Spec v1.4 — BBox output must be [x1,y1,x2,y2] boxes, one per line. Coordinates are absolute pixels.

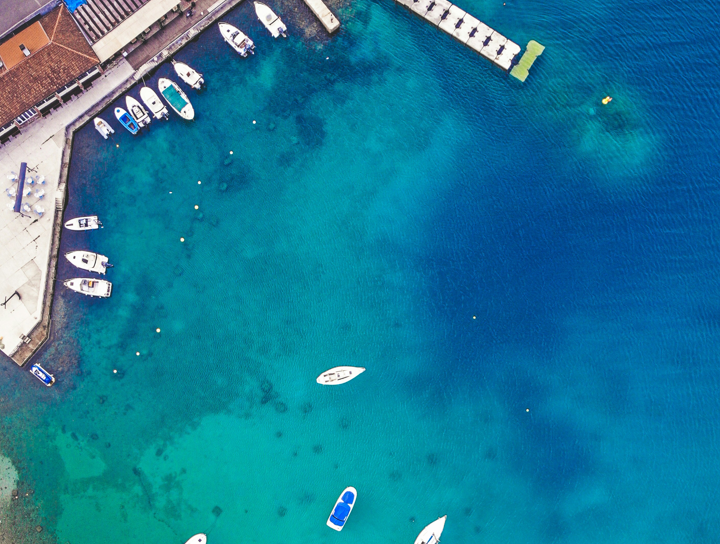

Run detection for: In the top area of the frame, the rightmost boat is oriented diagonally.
[253,0,288,41]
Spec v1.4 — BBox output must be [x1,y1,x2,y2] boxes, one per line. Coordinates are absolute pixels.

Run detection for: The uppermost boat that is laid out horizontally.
[63,215,106,232]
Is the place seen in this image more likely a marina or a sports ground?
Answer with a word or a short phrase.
marina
